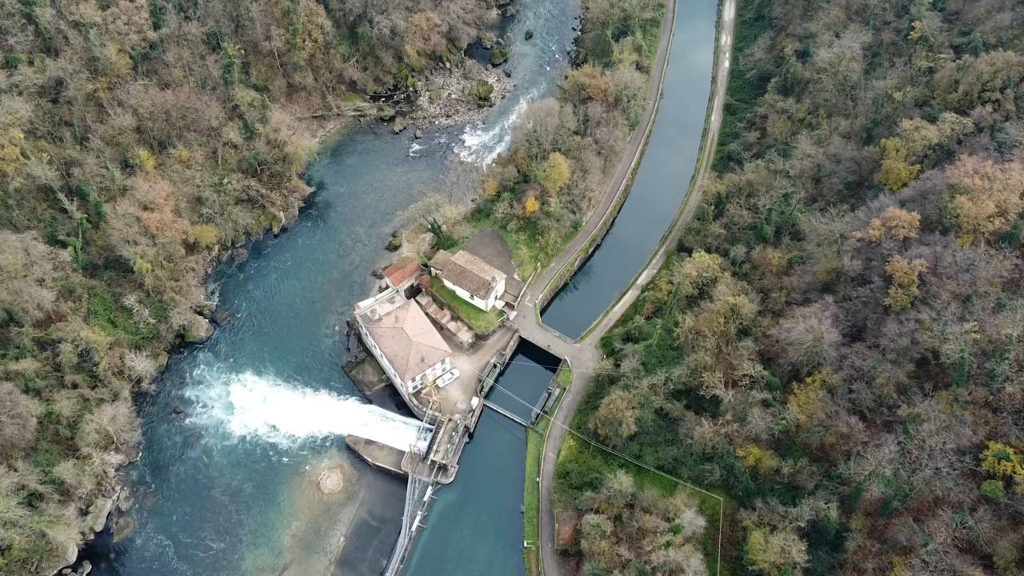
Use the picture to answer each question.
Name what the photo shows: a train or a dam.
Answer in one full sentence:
The one in the frame is a dam.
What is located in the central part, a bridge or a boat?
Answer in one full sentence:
The feature located in the central part is a bridge.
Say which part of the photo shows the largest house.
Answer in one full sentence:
The largest house appears toward the center of the photo.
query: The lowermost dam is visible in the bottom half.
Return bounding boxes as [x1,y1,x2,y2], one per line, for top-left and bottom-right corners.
[382,474,441,576]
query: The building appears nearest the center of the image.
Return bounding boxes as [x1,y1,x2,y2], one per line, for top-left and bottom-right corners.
[441,251,505,310]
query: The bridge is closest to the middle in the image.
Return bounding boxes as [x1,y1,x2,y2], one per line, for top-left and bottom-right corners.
[518,319,575,359]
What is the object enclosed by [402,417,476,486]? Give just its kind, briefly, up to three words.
dam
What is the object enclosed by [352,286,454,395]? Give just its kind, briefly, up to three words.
house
